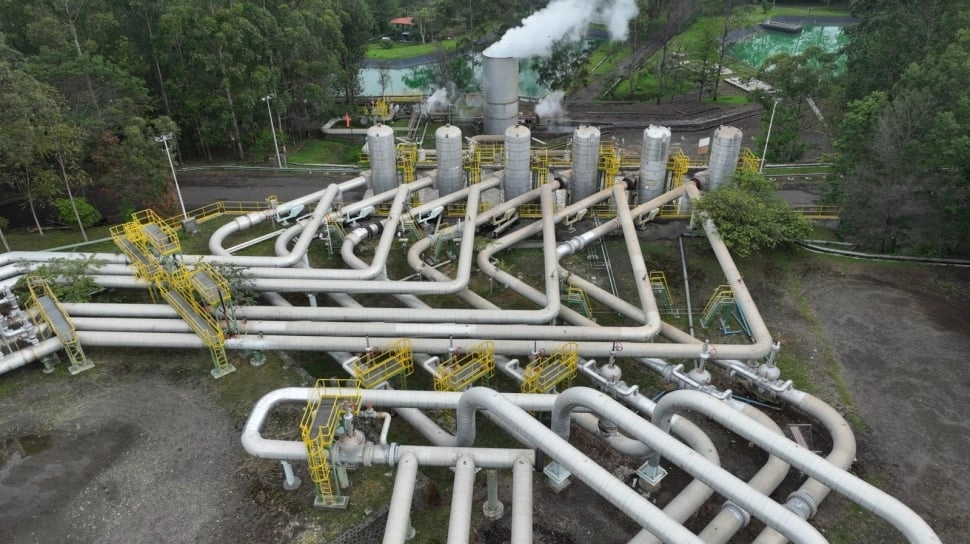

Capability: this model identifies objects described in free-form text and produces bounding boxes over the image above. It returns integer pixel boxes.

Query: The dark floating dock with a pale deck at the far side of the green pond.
[760,12,805,37]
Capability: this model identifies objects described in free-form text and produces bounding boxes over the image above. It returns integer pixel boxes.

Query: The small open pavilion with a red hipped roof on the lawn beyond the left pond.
[385,11,417,39]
